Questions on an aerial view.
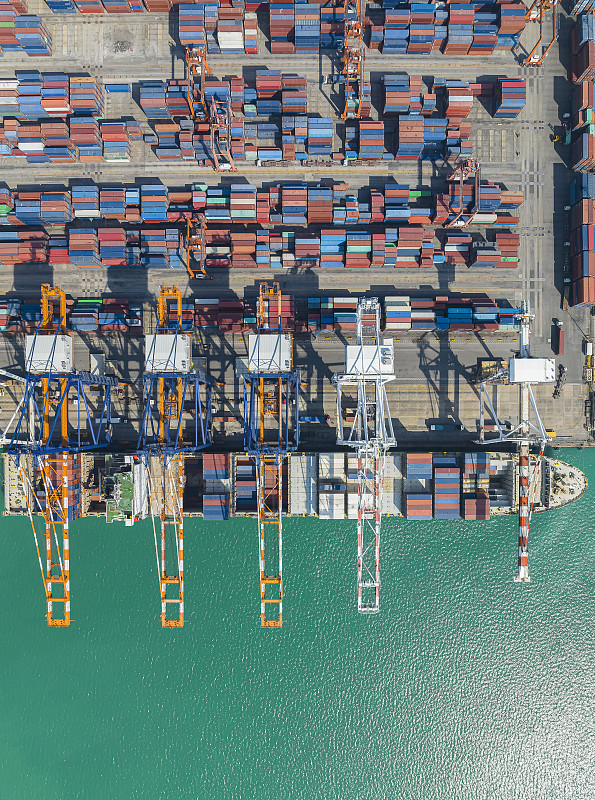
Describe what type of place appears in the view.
port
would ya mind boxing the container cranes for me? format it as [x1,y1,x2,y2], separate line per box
[242,283,308,627]
[468,290,559,587]
[326,296,400,612]
[341,0,365,64]
[213,102,237,170]
[186,48,212,116]
[525,0,561,62]
[7,283,126,626]
[447,161,480,228]
[137,283,224,627]
[183,219,211,277]
[340,48,366,116]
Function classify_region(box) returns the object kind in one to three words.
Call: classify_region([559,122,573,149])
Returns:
work vehicle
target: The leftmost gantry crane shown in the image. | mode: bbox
[0,376,44,448]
